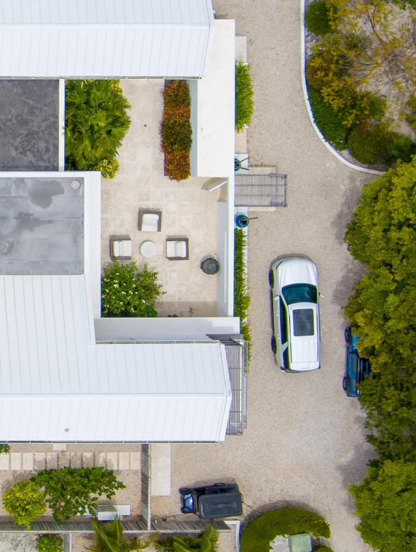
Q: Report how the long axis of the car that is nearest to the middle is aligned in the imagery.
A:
vertically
